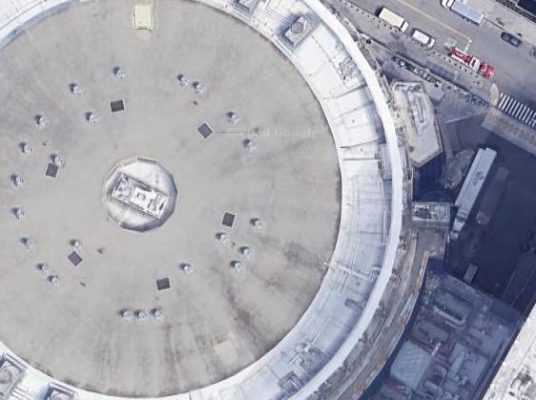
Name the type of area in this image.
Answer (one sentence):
The picture captures a sports ground.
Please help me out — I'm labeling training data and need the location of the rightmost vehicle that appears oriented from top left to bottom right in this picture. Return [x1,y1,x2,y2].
[501,32,521,47]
